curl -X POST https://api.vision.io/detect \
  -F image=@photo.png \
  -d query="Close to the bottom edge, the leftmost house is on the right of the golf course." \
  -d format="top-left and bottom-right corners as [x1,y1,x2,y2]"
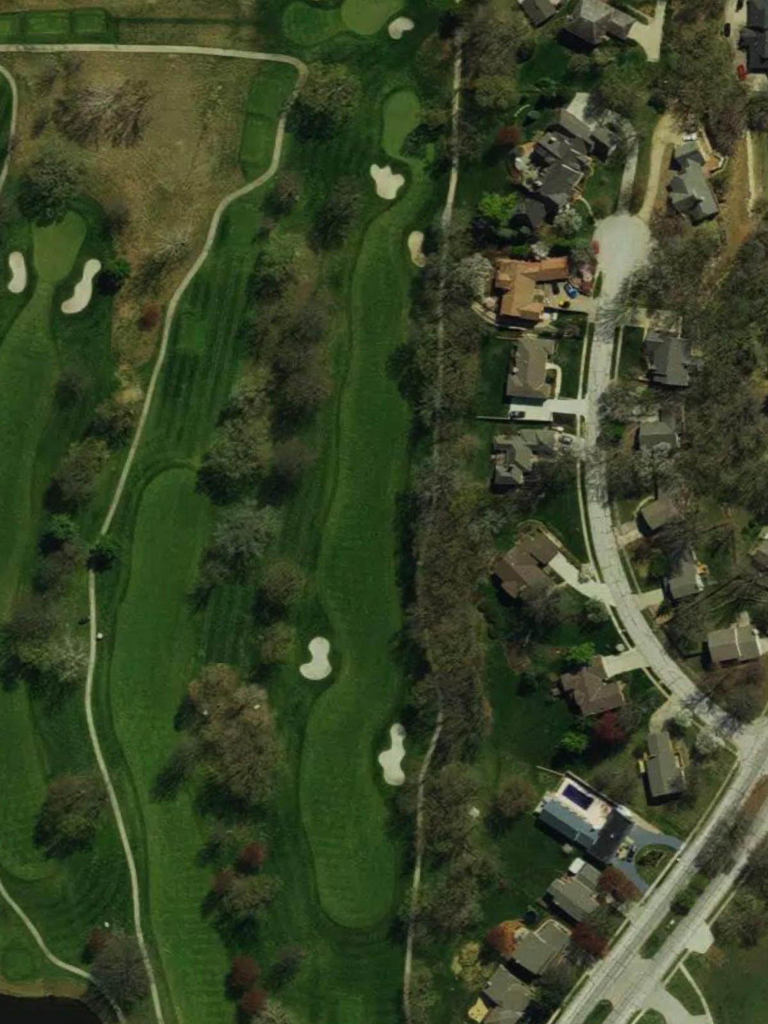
[468,965,533,1024]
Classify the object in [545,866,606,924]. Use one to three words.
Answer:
house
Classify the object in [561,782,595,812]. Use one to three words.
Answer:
swimming pool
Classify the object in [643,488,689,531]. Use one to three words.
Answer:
house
